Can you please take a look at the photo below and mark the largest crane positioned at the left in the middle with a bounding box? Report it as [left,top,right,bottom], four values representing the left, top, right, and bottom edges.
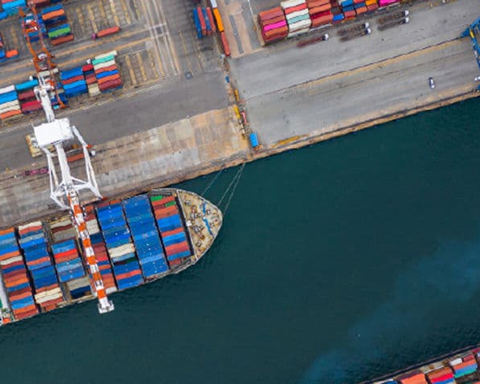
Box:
[35,75,119,313]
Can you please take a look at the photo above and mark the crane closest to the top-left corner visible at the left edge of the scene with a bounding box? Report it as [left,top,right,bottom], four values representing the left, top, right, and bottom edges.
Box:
[18,3,56,62]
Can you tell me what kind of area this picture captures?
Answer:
port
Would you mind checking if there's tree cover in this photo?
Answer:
No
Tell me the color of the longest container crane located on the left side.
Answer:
white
